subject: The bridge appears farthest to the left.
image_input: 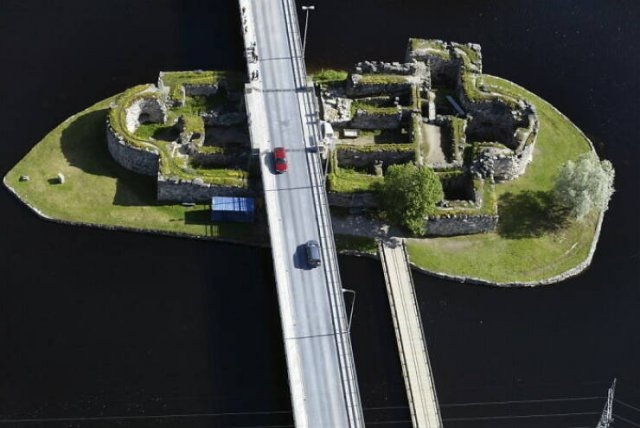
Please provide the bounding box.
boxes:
[239,0,365,428]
